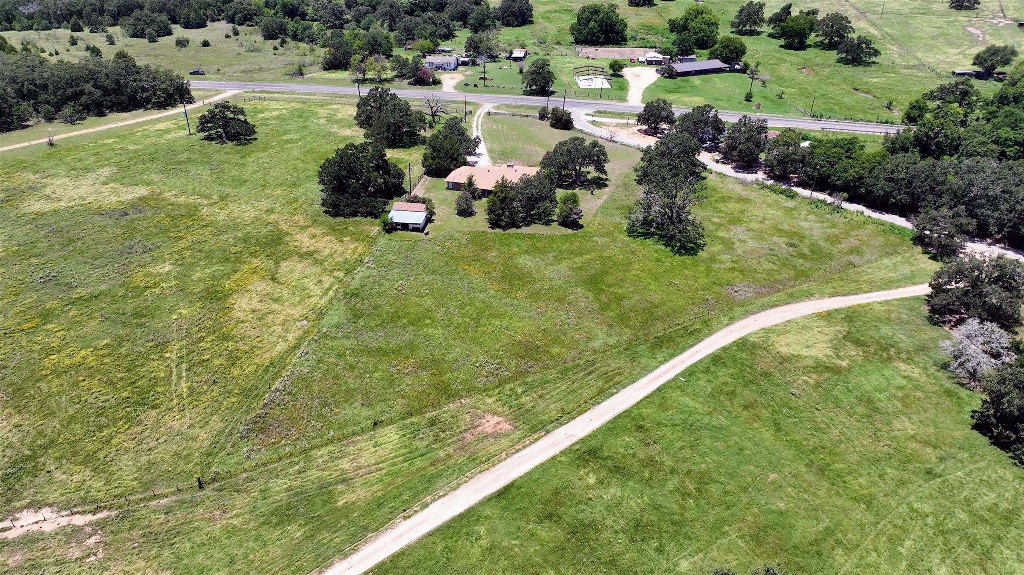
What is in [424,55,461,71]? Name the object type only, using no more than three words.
house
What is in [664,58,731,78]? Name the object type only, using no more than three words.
house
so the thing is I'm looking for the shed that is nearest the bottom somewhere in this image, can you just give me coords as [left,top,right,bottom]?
[387,200,431,231]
